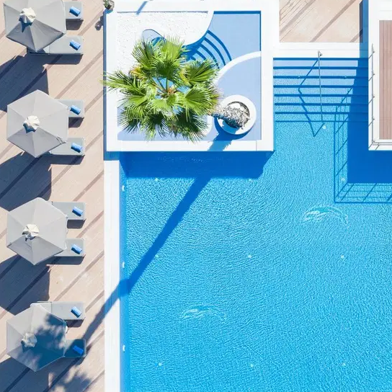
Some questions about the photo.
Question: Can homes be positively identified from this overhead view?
No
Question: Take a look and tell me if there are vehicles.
No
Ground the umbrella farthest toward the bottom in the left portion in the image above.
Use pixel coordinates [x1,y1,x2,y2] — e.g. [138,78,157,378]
[5,302,68,372]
